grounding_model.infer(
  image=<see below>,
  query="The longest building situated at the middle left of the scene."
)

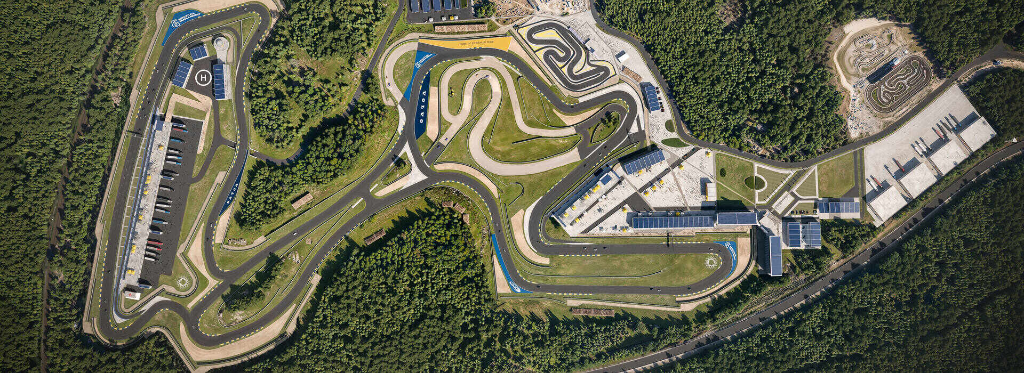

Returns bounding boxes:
[125,121,173,286]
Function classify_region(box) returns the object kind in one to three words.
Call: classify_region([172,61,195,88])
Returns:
shed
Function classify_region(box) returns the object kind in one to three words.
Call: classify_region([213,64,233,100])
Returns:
shed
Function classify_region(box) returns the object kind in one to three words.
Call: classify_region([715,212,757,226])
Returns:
building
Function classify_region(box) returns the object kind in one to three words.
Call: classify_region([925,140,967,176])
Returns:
building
